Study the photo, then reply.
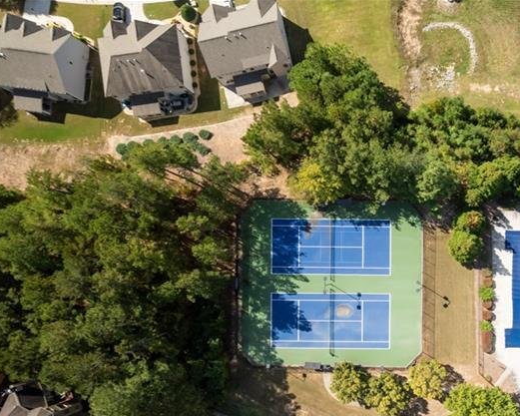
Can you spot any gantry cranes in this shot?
No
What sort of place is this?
residential area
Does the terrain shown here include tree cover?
Yes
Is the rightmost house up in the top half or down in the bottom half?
top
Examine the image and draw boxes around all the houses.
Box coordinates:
[0,0,88,117]
[98,16,194,120]
[196,0,296,100]
[0,374,89,416]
